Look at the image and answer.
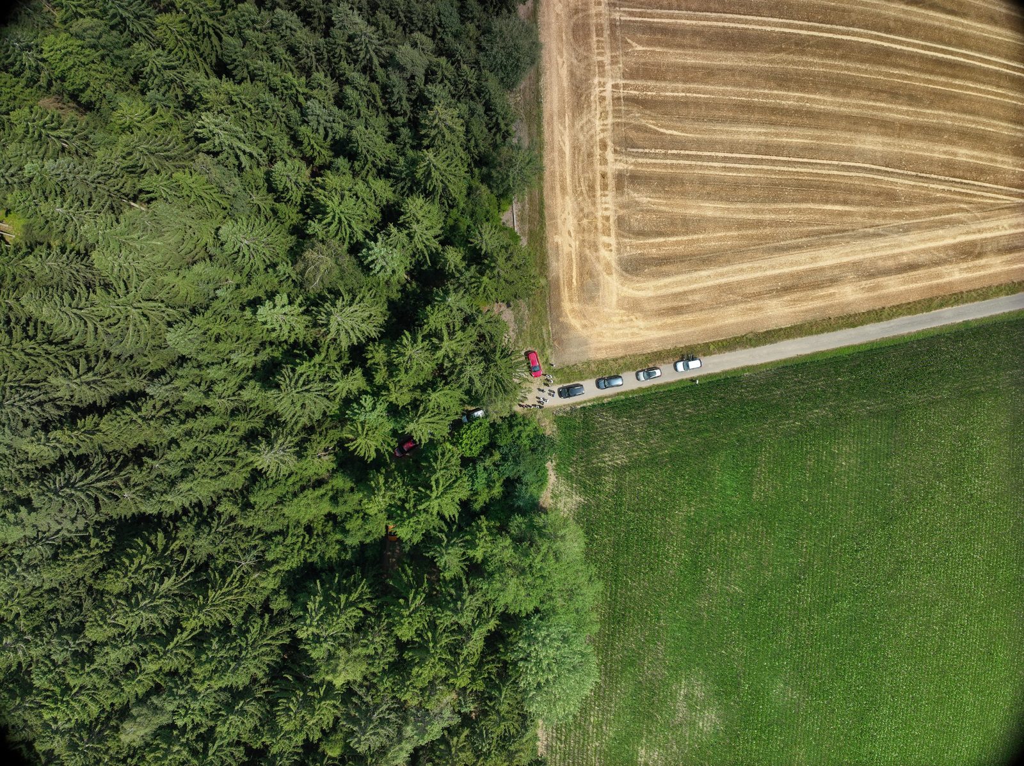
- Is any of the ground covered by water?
No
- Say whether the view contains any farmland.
Yes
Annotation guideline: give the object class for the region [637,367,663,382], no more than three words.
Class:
car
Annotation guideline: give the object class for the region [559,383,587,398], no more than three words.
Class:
car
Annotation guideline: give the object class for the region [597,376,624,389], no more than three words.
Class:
vehicle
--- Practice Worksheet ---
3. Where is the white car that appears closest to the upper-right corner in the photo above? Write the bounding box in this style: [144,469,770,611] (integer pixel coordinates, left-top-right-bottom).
[675,355,703,372]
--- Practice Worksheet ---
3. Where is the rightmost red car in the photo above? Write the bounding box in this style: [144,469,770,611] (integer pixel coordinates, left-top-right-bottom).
[528,351,542,377]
